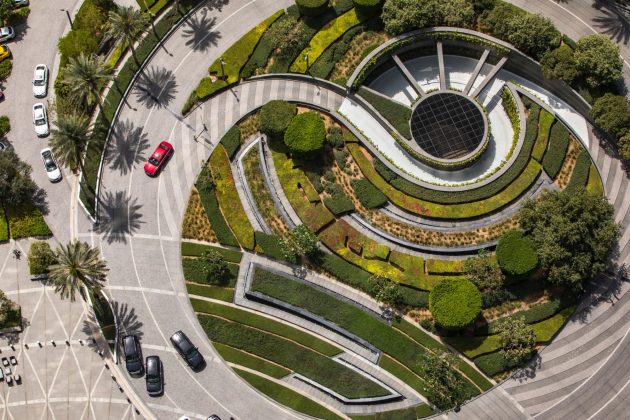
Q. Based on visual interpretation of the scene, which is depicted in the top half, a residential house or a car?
car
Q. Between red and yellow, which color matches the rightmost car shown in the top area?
red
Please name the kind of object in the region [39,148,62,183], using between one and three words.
car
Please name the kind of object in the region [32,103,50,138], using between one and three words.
car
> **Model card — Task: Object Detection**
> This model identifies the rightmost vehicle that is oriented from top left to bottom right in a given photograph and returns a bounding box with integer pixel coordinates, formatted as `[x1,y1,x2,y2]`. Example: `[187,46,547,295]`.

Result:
[169,332,205,372]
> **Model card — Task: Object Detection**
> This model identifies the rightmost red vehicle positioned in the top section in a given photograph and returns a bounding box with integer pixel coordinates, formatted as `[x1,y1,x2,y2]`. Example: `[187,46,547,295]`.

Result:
[145,141,173,176]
